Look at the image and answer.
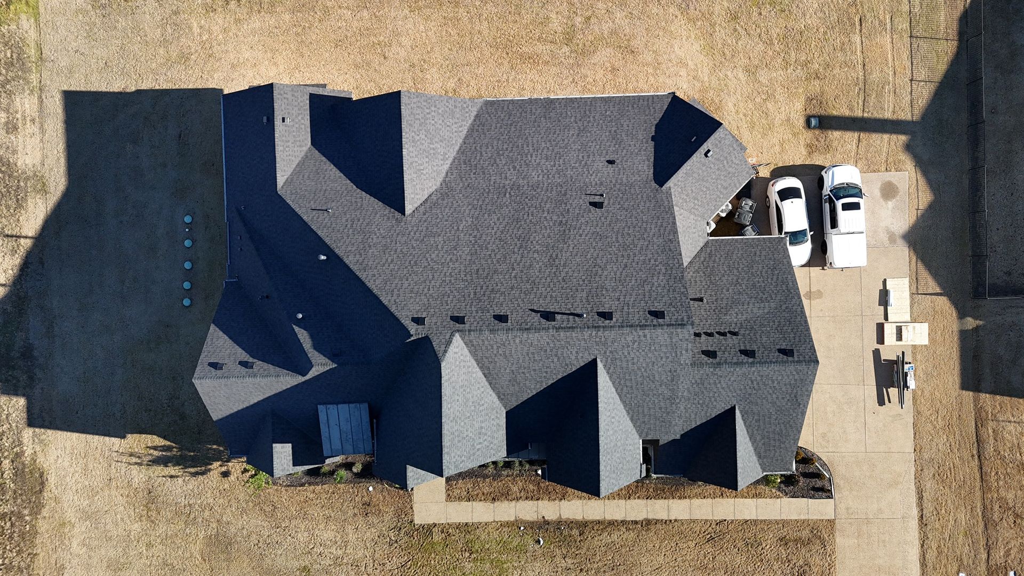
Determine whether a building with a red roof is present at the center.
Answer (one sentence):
No, no building with a red roof is visible at the center.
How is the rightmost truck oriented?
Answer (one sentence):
In this picture, the rightmost truck is oriented vertically.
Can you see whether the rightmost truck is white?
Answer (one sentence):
Yes, white is the color of the rightmost truck.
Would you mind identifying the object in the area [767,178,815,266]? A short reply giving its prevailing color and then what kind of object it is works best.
white car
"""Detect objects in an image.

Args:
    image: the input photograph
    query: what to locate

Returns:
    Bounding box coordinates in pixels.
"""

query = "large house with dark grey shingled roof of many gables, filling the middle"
[193,81,819,497]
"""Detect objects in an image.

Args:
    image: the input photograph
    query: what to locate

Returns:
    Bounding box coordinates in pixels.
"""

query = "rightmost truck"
[816,166,869,274]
